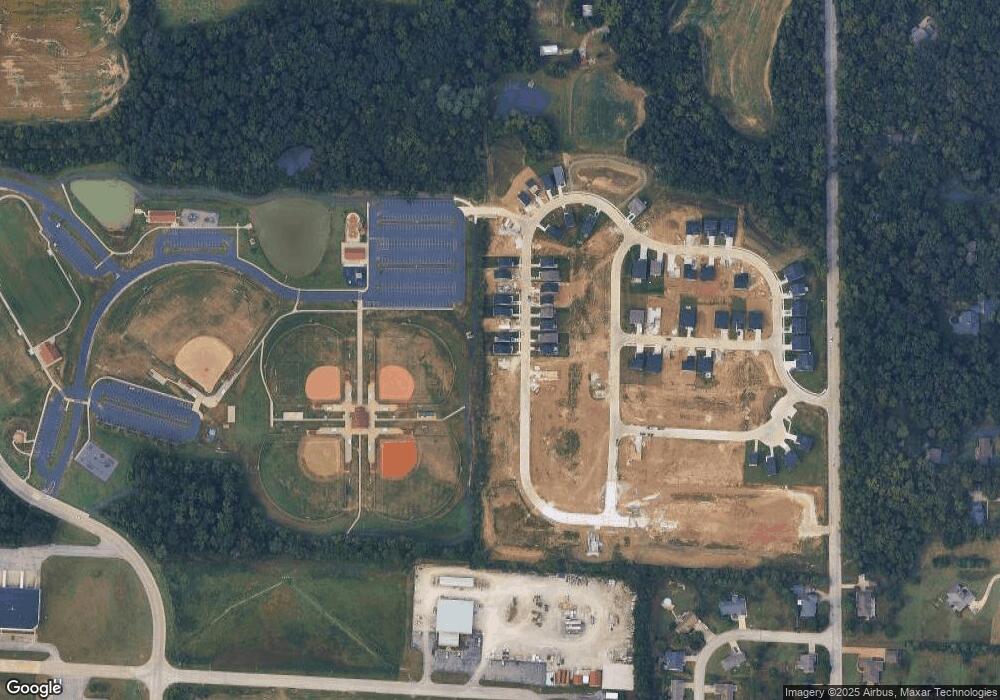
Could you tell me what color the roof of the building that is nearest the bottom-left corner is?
blue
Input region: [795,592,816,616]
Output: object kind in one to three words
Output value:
house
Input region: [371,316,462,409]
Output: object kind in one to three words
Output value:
baseball field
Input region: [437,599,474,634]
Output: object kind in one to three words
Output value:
building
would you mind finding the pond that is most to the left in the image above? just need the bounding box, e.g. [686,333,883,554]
[71,179,136,228]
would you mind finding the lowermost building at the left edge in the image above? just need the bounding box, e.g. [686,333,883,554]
[0,570,39,638]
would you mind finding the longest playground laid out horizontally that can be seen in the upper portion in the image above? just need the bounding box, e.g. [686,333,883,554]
[180,209,218,226]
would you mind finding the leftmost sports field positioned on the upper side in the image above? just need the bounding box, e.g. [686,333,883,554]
[0,200,76,344]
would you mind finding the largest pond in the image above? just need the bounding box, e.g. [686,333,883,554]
[250,198,331,277]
